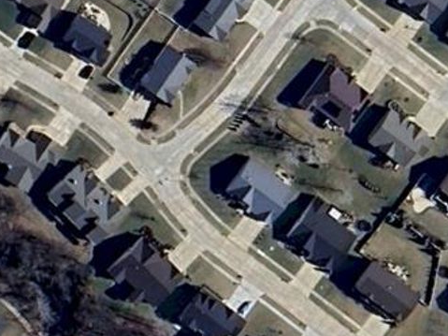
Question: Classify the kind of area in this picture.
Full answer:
The picture captures a residential area.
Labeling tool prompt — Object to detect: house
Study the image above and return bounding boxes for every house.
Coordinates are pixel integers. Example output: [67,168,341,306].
[394,0,447,23]
[356,260,422,323]
[105,233,178,302]
[14,0,62,31]
[287,200,358,272]
[193,0,254,43]
[139,42,198,105]
[48,162,123,239]
[60,11,117,69]
[302,65,374,132]
[0,125,52,194]
[229,154,300,226]
[369,105,436,169]
[180,287,247,336]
